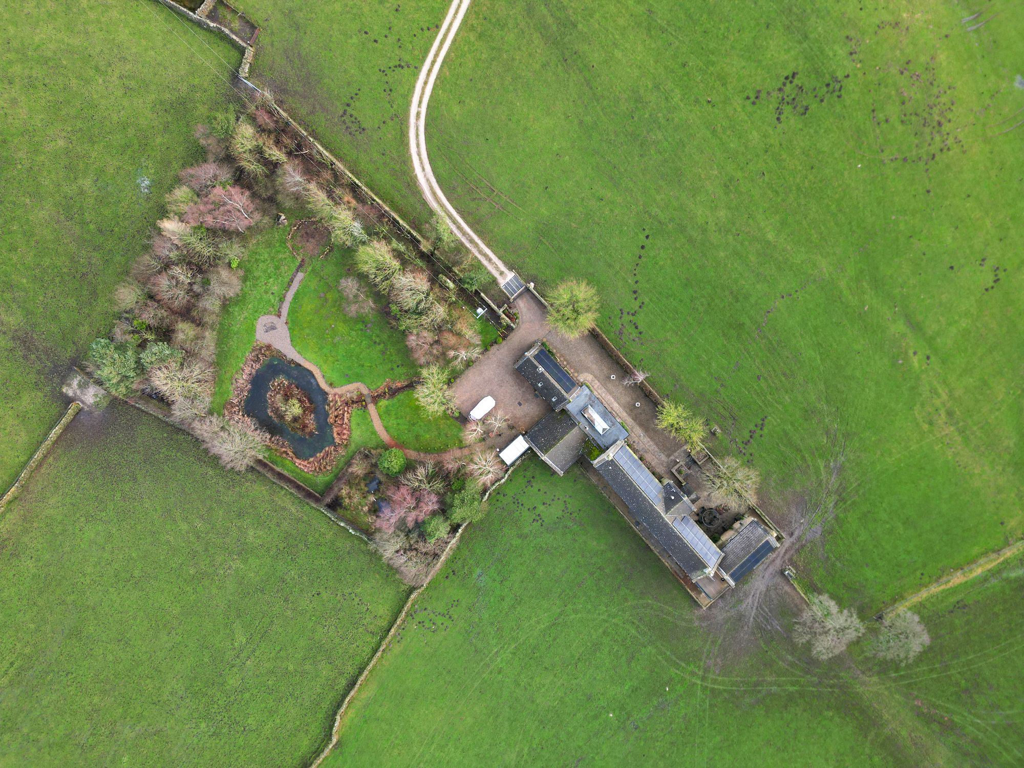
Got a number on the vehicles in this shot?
1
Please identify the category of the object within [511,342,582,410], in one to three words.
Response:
house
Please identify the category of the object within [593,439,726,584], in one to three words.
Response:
house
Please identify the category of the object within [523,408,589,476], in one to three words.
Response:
barn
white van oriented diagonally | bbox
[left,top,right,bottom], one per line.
[467,394,497,422]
